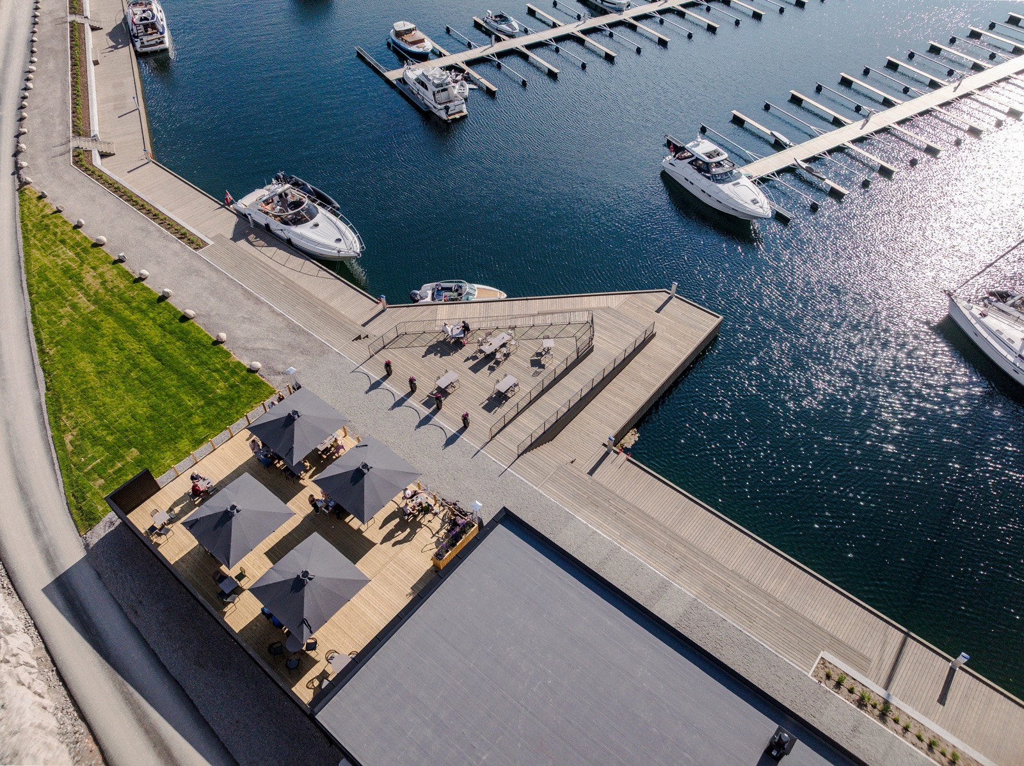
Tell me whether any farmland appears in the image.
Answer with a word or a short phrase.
No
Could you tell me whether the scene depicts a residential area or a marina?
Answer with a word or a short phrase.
marina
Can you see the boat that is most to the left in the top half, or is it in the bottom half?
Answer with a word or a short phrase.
top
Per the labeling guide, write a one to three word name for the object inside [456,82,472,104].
boat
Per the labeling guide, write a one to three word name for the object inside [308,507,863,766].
building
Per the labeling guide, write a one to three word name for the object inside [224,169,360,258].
boat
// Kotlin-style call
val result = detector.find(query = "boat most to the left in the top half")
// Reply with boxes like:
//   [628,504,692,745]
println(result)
[122,0,171,57]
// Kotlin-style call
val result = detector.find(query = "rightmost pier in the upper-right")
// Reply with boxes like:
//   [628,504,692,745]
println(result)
[740,54,1024,180]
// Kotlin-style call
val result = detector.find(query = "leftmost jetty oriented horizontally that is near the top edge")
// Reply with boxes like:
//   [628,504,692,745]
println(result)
[385,0,702,81]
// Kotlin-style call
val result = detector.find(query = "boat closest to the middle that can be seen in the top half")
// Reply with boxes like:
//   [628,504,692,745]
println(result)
[413,276,507,305]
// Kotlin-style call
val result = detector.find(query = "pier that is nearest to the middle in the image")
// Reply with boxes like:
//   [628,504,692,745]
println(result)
[388,290,724,468]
